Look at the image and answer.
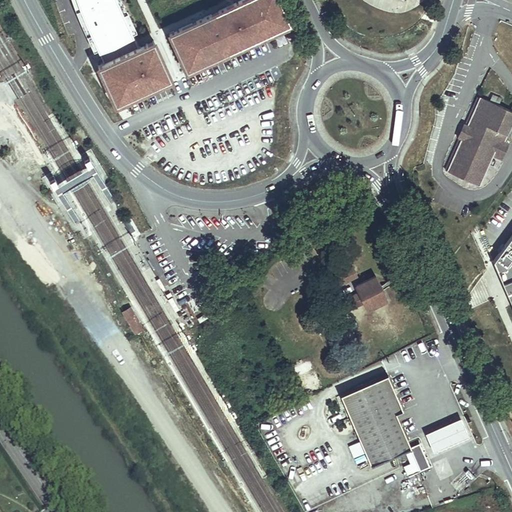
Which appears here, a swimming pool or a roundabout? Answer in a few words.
roundabout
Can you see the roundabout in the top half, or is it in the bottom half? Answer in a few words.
top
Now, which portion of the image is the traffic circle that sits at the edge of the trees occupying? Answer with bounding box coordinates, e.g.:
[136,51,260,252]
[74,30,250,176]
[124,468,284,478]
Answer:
[298,48,414,175]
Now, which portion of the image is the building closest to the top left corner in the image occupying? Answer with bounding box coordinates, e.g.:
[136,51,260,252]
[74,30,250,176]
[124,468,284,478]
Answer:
[70,0,139,56]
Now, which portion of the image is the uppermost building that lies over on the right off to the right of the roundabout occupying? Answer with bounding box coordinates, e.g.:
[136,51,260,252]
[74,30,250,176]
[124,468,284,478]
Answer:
[448,92,512,186]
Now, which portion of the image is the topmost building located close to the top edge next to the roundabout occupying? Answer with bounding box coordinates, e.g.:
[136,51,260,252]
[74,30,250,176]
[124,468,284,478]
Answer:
[170,0,292,76]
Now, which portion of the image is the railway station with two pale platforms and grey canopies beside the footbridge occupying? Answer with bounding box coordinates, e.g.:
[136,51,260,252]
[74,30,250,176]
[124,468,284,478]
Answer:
[60,148,170,310]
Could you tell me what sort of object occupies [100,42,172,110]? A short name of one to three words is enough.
building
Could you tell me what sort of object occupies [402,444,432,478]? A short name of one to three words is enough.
building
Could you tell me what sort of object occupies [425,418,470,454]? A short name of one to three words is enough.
shed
